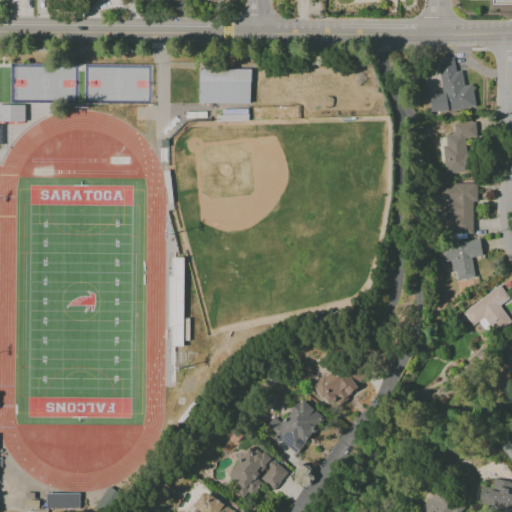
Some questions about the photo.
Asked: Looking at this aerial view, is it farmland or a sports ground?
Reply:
sports ground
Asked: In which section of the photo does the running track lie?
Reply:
left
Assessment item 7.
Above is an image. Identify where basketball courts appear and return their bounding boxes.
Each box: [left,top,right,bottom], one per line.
[86,64,152,103]
[12,64,78,102]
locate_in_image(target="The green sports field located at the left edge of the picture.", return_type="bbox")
[16,178,147,425]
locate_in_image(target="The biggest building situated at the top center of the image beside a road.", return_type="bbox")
[199,68,252,104]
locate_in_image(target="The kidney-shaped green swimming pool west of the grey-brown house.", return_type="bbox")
[214,458,232,480]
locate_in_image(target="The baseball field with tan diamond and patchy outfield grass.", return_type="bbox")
[173,113,396,338]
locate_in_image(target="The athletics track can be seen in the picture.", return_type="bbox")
[0,111,166,492]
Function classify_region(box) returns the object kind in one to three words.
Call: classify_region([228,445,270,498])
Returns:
house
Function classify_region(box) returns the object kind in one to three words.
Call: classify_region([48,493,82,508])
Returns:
shed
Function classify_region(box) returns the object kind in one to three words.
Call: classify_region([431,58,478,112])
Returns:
house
